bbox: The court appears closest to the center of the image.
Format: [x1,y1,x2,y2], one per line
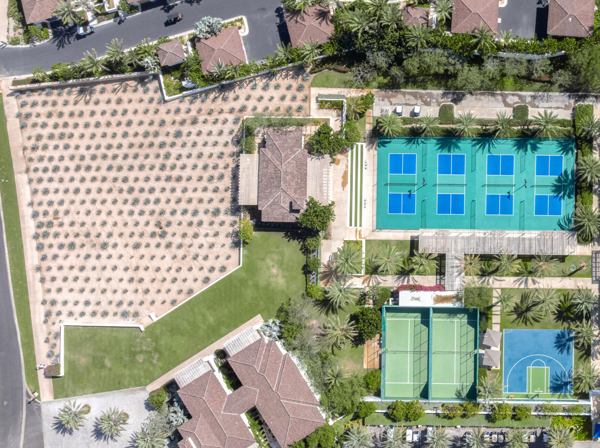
[376,138,424,229]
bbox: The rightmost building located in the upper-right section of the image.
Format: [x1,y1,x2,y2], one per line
[547,0,595,38]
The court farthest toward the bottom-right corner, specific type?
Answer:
basketball court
